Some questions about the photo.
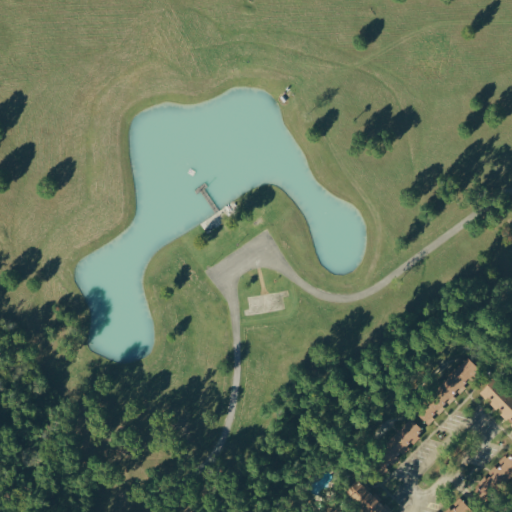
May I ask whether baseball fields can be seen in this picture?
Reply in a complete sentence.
No, I find no baseball field anywhere in the image.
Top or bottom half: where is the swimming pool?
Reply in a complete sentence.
The swimming pool sits in the bottom half of the picture.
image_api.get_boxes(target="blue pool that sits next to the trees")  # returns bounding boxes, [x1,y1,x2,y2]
[312,470,334,501]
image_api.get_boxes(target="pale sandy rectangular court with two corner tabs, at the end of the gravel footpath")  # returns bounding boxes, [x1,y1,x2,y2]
[244,290,289,316]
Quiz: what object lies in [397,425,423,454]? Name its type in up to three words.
building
